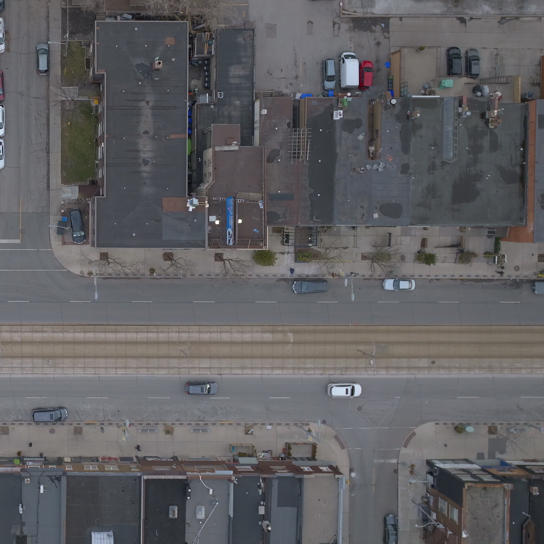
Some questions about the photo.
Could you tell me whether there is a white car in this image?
Yes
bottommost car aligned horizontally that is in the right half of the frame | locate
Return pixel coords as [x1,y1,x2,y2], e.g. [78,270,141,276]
[326,382,361,399]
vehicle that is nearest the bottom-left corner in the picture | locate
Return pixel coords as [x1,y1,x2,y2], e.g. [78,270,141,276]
[32,407,67,423]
